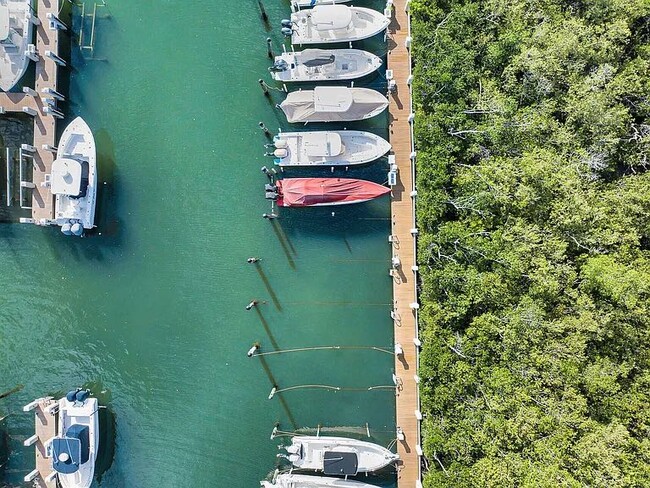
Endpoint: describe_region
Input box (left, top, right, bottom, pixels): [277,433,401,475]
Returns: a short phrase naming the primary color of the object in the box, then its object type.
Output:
white boat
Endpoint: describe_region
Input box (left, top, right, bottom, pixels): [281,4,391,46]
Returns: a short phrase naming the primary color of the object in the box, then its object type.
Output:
white boat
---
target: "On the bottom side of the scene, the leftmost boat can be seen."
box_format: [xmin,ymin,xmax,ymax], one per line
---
[52,384,106,488]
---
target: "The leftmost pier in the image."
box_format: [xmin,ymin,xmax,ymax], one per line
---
[0,92,36,121]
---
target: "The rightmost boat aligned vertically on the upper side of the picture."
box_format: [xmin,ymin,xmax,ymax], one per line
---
[40,117,101,237]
